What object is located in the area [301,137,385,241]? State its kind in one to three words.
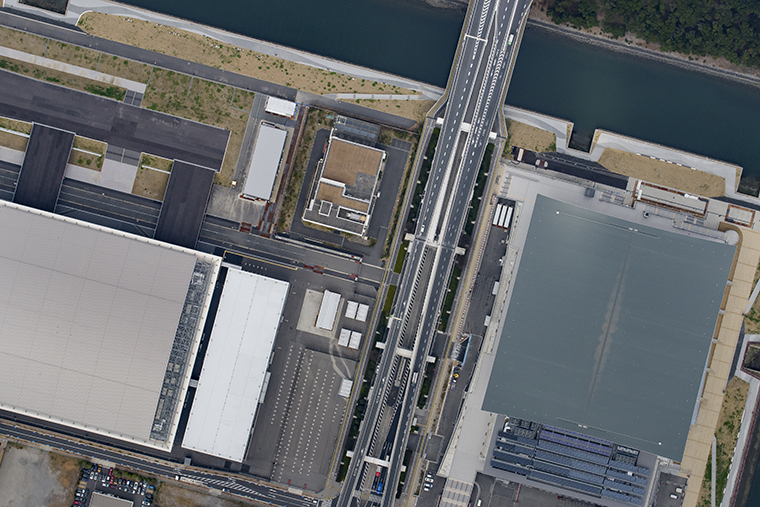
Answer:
building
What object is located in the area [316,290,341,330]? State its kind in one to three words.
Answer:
shed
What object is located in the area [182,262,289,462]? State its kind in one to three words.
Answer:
building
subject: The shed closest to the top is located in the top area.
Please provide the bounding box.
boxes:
[265,97,296,117]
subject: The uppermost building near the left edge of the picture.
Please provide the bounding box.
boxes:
[0,201,221,451]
